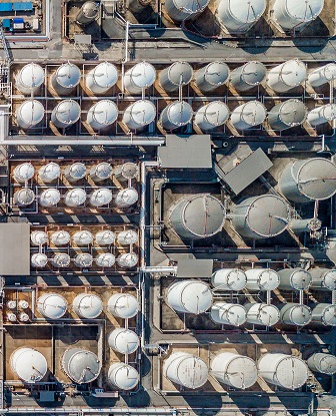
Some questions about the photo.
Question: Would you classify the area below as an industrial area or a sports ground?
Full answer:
This image shows an industrial area.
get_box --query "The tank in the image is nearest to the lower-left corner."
[8,343,47,383]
